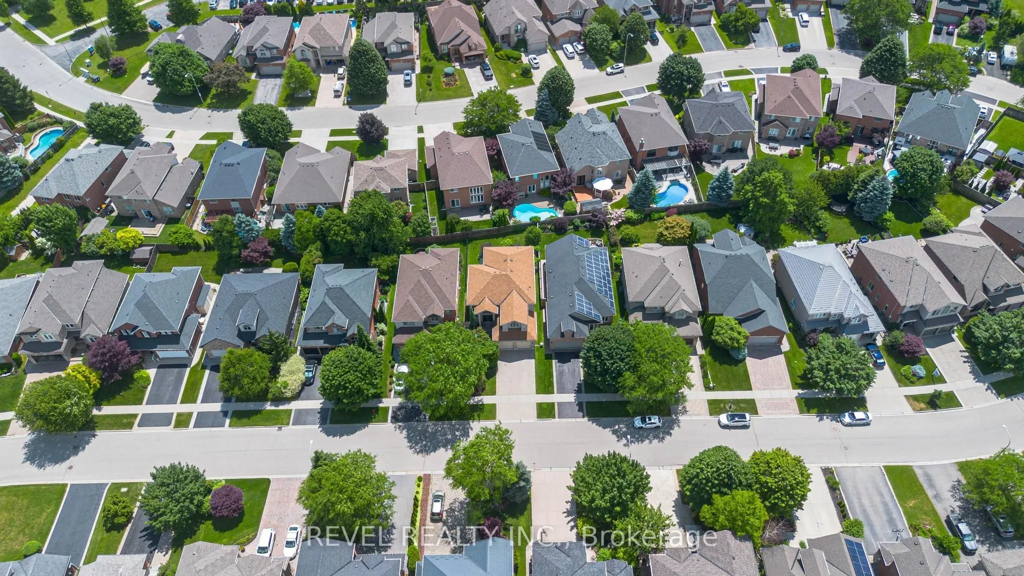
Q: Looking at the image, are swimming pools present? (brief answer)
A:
Yes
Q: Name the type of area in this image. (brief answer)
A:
residential area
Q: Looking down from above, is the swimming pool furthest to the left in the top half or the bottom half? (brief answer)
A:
top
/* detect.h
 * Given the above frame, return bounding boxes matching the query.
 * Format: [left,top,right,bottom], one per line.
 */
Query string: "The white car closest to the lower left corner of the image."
[254,522,276,558]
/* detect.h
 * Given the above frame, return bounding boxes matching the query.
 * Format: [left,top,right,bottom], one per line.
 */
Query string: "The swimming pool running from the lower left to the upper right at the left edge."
[27,127,66,159]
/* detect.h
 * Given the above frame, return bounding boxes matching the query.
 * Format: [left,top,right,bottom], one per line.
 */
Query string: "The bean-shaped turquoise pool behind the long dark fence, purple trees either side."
[512,203,559,222]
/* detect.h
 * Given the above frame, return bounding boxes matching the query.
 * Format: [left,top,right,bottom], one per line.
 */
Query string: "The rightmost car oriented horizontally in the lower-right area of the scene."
[838,412,874,427]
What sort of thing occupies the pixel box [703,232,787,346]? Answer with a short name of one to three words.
house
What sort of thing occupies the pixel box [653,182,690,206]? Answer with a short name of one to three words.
swimming pool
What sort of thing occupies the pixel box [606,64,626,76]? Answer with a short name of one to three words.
vehicle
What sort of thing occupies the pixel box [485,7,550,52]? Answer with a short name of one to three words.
house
